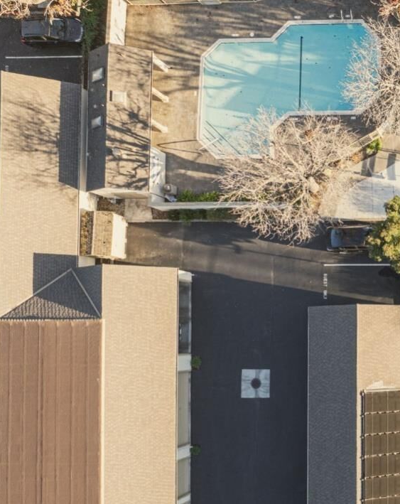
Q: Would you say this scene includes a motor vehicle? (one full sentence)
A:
Yes, there's a motor vehicle here.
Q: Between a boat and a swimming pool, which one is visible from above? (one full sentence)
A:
The image shows a swimming pool.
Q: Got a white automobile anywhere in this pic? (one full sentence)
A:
No, the photo shows no white automobile.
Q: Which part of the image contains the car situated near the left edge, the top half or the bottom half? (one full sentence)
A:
The top half of the photo is where the car situated near the left edge is.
